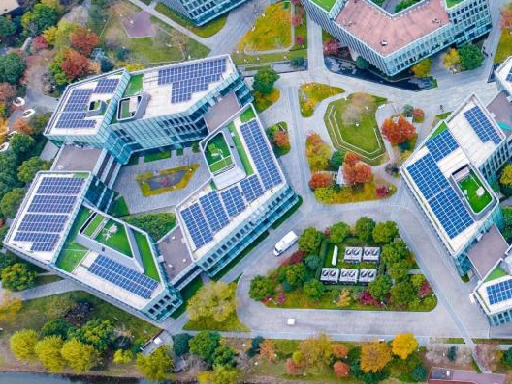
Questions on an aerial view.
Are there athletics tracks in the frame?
No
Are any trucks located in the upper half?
No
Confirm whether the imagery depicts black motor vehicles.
No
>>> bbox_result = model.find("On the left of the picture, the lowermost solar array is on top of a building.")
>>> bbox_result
[89,254,161,299]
